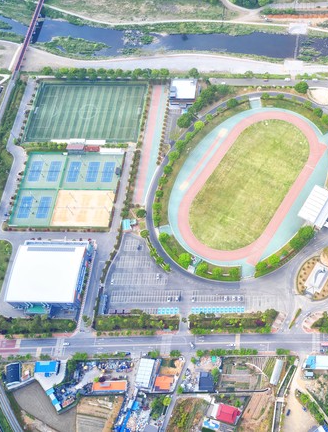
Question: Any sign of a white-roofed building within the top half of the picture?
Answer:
Yes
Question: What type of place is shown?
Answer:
sports ground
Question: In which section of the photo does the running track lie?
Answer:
right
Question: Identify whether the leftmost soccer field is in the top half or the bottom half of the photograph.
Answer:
top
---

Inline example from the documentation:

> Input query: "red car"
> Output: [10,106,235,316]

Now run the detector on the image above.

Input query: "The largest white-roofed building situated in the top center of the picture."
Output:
[168,78,198,113]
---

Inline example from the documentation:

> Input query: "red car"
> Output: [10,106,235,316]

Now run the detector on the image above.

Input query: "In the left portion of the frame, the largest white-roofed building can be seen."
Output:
[5,240,98,315]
